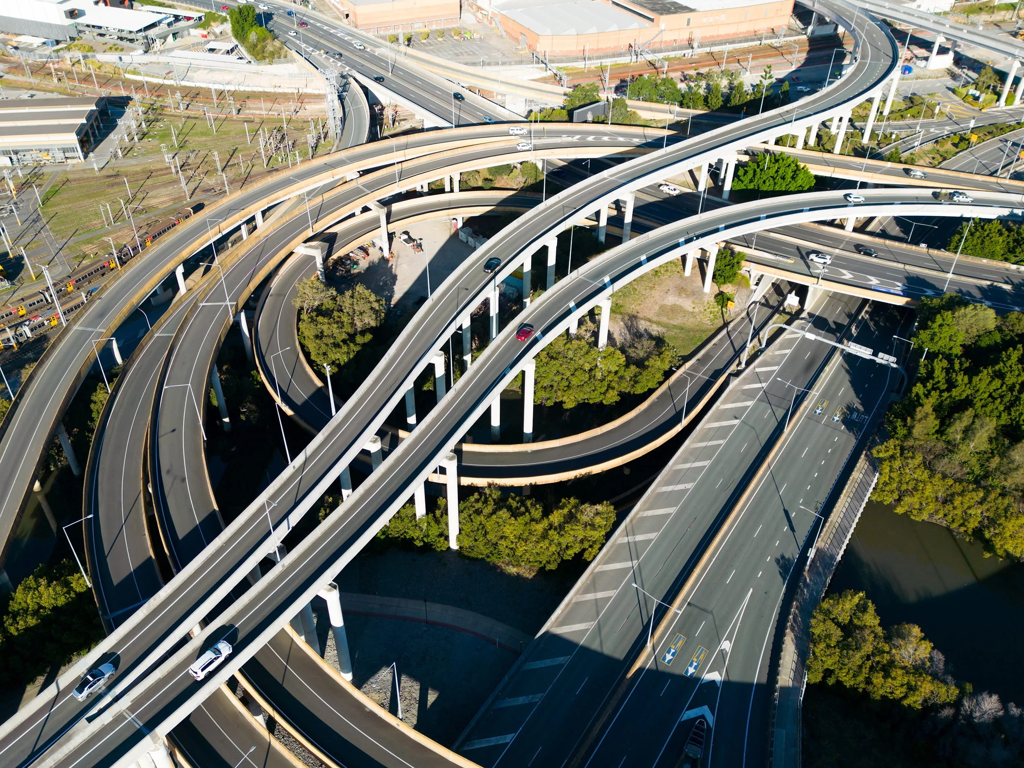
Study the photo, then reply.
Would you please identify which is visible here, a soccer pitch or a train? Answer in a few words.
train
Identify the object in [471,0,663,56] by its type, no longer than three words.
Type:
building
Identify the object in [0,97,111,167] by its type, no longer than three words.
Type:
building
